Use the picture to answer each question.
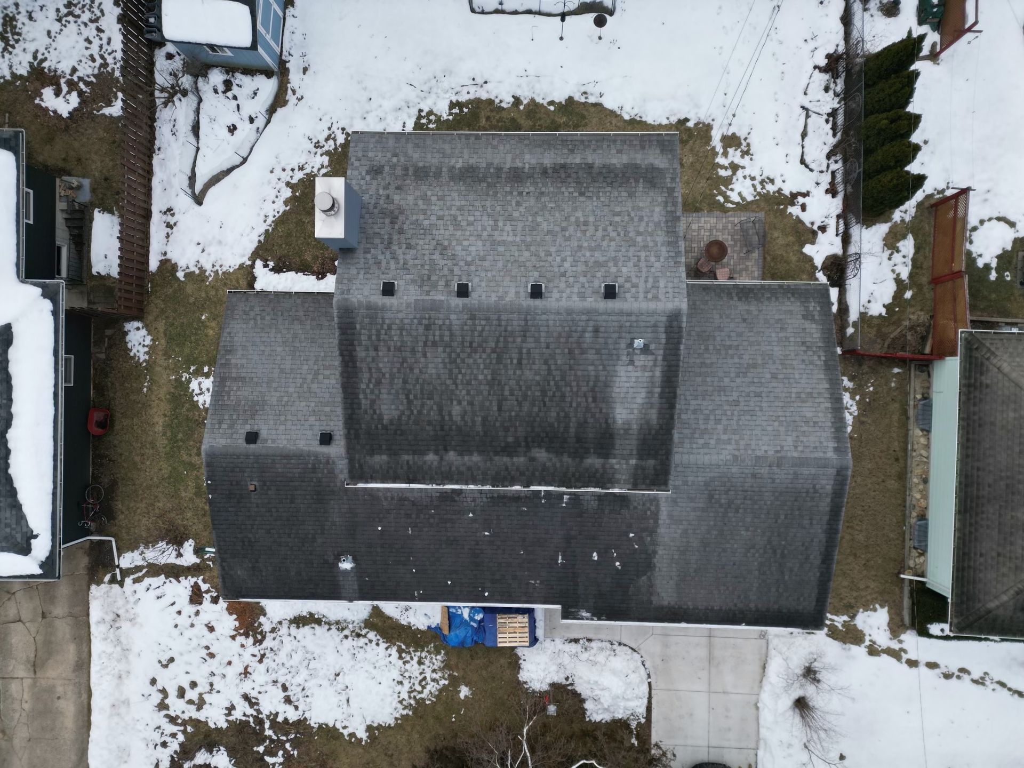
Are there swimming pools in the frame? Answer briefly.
No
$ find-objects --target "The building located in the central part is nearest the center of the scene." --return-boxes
[202,131,852,633]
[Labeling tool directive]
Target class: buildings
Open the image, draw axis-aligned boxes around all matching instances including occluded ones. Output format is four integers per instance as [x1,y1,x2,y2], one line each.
[903,330,1024,639]
[202,131,852,633]
[0,128,121,581]
[154,0,279,71]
